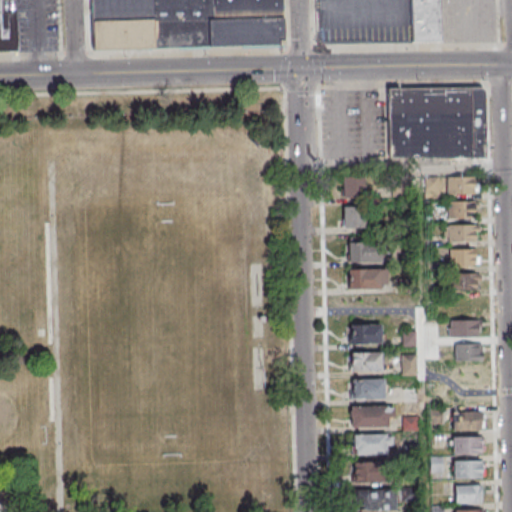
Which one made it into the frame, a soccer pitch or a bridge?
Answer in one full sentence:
Looking from above, you can make out a soccer pitch.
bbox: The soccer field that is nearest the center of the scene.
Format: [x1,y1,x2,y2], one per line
[84,195,255,464]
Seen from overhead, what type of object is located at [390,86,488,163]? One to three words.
building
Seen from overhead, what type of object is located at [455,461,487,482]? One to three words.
house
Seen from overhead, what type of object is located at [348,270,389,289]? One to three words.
house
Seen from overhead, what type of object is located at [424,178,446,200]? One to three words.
building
